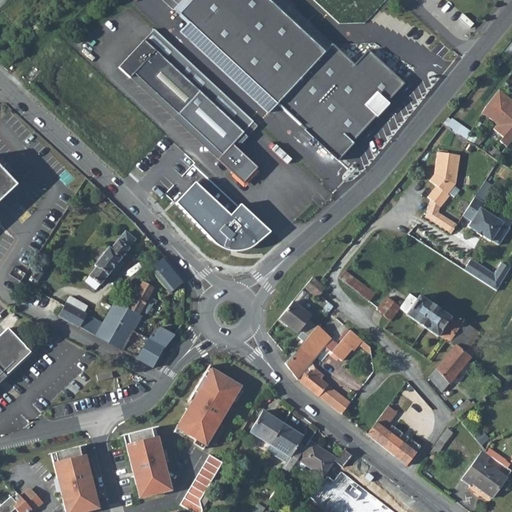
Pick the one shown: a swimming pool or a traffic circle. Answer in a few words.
traffic circle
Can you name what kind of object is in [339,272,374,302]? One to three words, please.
barn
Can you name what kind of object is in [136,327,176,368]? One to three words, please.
building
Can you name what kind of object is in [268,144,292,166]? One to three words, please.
truck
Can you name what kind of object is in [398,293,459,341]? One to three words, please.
house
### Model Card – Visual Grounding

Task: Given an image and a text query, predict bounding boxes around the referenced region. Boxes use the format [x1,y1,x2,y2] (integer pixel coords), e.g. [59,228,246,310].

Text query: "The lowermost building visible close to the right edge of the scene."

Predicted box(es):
[461,449,510,500]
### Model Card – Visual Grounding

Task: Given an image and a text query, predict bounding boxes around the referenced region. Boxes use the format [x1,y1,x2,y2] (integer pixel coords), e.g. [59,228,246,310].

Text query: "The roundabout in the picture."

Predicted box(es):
[196,278,264,346]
